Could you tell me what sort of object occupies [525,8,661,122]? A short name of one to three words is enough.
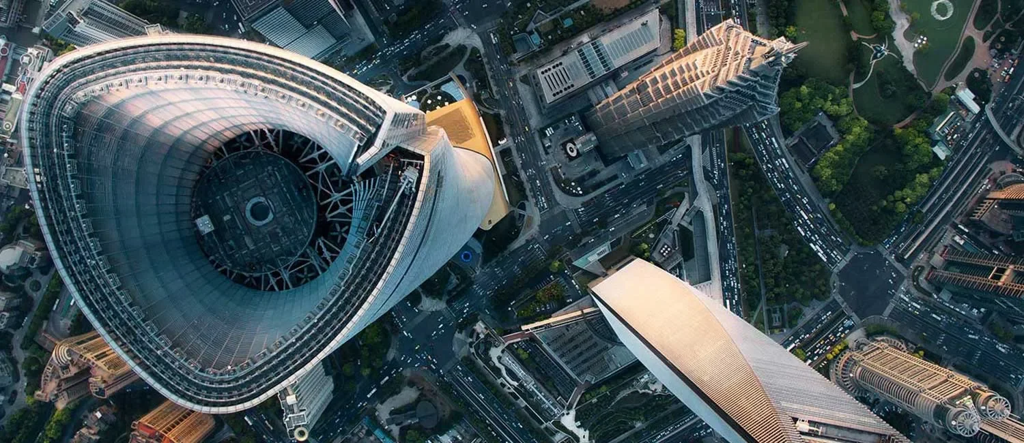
building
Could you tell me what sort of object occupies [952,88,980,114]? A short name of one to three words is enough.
shed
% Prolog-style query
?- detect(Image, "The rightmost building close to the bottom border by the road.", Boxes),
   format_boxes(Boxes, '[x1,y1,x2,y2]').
[833,335,1012,443]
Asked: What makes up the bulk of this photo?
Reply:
buildings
